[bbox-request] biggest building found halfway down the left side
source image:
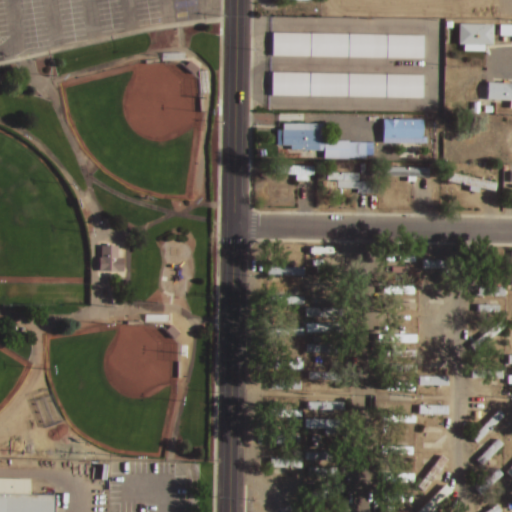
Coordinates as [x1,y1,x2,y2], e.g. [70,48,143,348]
[100,244,126,271]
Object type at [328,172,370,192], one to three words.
house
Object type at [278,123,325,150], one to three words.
building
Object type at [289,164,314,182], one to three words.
house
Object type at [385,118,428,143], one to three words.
building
